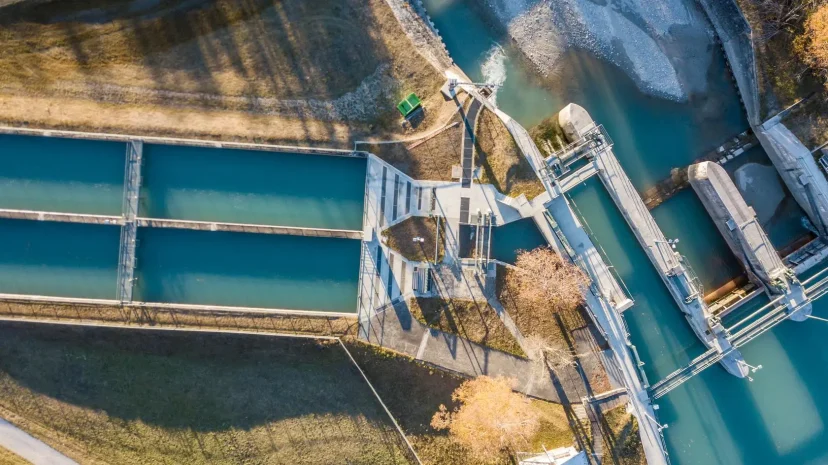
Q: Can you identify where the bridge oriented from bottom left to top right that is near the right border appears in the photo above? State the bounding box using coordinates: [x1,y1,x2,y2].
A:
[648,268,828,411]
